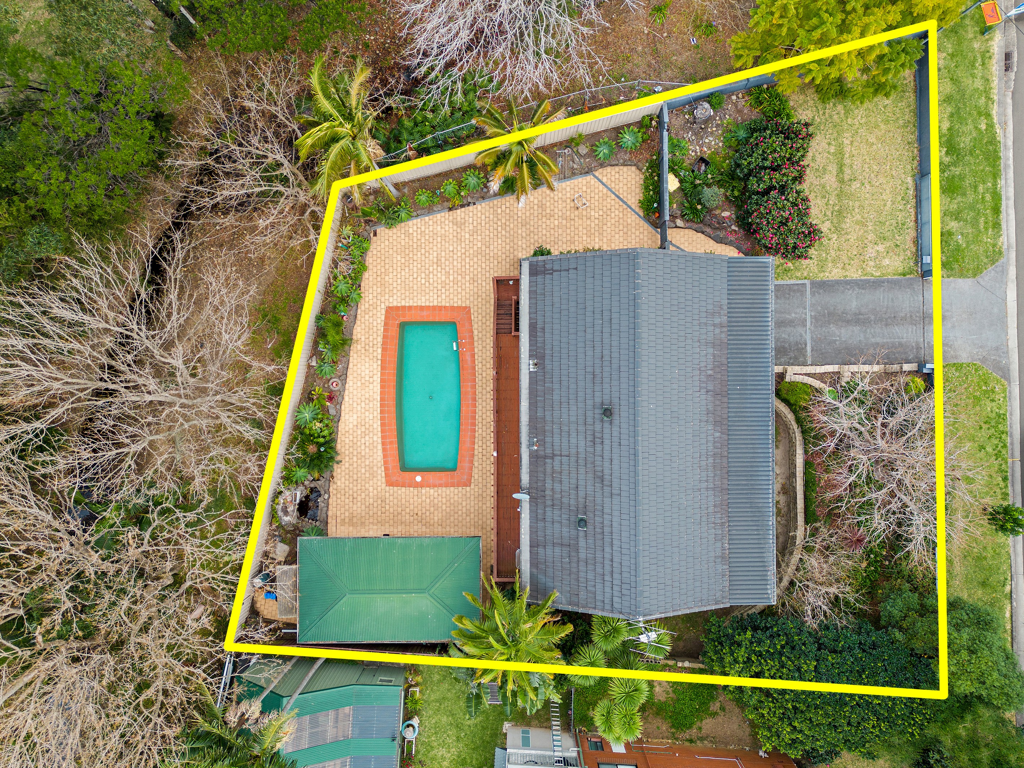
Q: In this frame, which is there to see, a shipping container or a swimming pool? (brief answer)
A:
swimming pool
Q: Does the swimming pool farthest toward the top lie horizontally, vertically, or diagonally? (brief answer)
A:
vertically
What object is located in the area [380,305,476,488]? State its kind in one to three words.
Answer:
swimming pool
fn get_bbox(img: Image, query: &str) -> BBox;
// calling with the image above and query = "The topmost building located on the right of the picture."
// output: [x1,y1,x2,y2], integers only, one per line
[520,242,779,625]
